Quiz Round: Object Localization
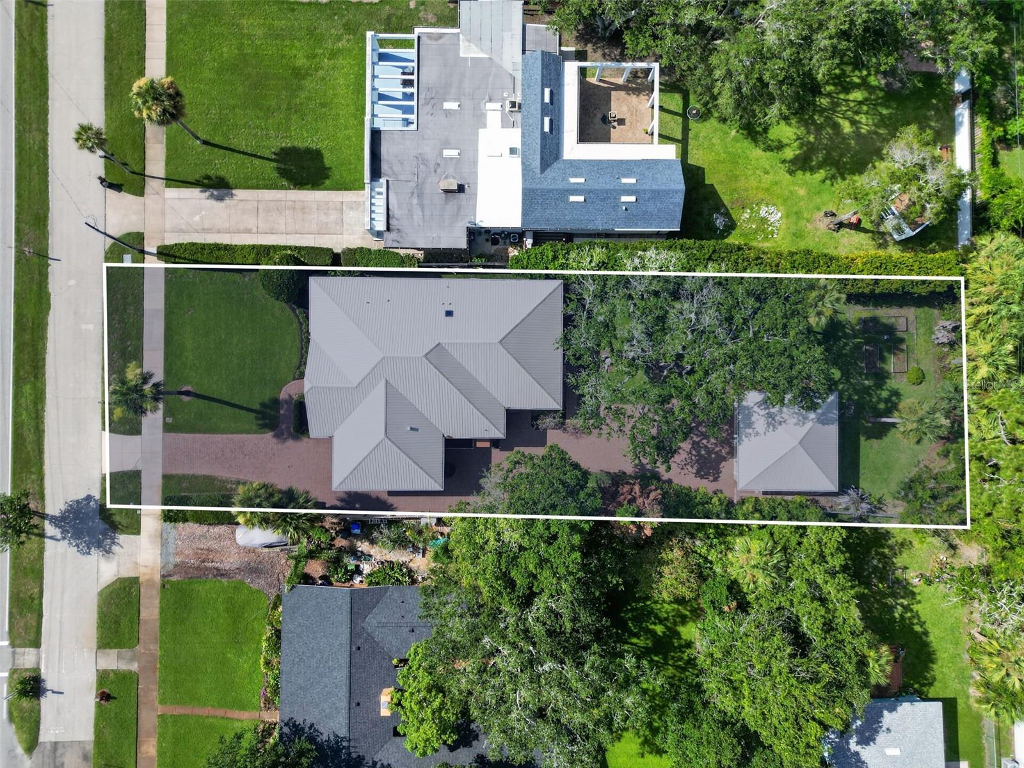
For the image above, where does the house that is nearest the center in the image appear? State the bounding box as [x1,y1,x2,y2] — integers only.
[305,275,564,492]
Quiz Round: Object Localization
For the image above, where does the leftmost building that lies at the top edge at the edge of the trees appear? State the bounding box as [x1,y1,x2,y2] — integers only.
[365,0,686,251]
